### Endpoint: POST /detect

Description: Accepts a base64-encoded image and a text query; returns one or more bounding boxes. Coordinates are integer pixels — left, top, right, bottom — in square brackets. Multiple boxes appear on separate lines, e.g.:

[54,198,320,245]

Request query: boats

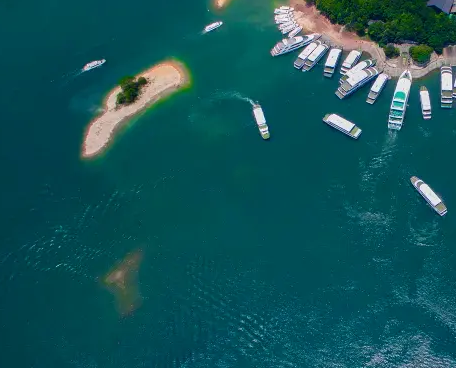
[288,27,302,37]
[440,66,453,107]
[282,24,298,33]
[82,61,106,71]
[323,46,344,77]
[294,38,321,68]
[304,43,331,71]
[339,49,361,73]
[274,12,292,19]
[336,68,384,100]
[411,176,448,216]
[324,115,362,138]
[276,17,294,23]
[420,85,432,119]
[204,21,223,32]
[270,33,321,57]
[279,21,296,29]
[252,102,269,140]
[274,8,289,14]
[366,73,392,104]
[340,59,378,84]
